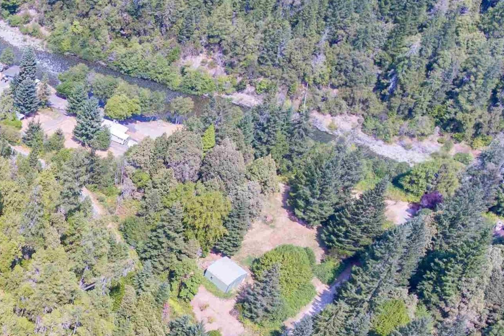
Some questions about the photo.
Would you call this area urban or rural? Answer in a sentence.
The area is rural.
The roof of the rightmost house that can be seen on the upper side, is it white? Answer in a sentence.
Yes, the roof of the rightmost house that can be seen on the upper side appears white.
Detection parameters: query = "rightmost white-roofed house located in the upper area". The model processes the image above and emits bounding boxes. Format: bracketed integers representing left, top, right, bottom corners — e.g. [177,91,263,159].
[96,118,130,144]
